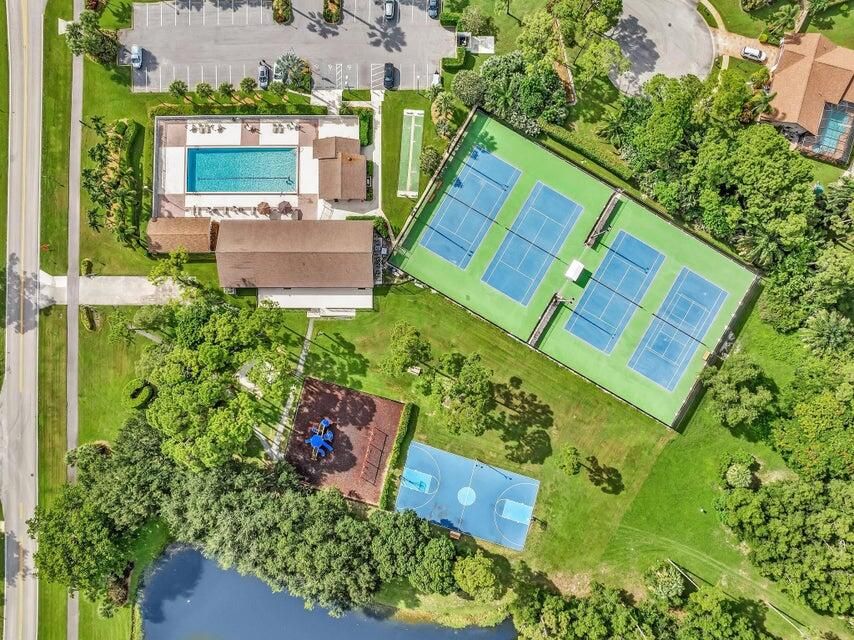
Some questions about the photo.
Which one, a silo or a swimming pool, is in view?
swimming pool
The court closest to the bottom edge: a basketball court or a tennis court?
basketball court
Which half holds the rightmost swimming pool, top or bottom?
top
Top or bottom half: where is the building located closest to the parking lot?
top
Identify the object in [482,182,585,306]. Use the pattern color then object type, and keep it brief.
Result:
blue tennis court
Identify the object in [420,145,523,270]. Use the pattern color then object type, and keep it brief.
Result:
blue tennis court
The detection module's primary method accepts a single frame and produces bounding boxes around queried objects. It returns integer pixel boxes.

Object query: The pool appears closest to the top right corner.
[817,106,850,150]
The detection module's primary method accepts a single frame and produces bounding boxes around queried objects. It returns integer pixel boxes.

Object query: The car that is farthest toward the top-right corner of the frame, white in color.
[741,45,766,62]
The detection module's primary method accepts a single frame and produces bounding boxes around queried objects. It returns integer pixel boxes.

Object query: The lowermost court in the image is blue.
[394,444,540,547]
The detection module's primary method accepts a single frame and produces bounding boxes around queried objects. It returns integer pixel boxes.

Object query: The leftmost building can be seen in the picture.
[146,218,213,252]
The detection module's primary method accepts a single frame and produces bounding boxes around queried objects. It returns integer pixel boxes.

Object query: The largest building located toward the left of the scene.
[216,219,373,309]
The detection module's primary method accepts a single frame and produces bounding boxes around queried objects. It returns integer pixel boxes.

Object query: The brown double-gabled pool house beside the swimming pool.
[313,137,366,199]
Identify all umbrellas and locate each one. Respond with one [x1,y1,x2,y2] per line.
[279,201,292,214]
[258,202,271,215]
[294,209,305,219]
